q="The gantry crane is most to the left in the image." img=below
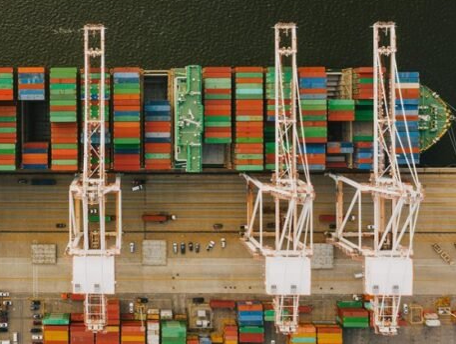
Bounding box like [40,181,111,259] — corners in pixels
[63,23,129,331]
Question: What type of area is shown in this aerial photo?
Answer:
port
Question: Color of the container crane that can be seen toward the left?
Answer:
white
